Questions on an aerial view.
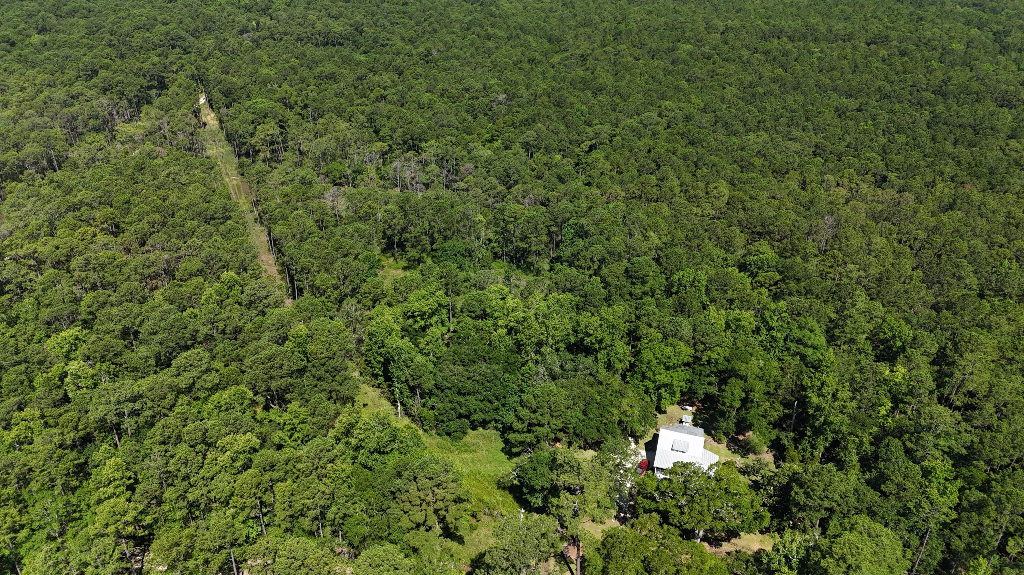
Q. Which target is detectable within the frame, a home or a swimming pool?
home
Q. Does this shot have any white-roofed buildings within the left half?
No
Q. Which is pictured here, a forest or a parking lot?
forest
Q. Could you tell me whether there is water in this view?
No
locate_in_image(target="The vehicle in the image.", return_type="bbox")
[637,460,652,478]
